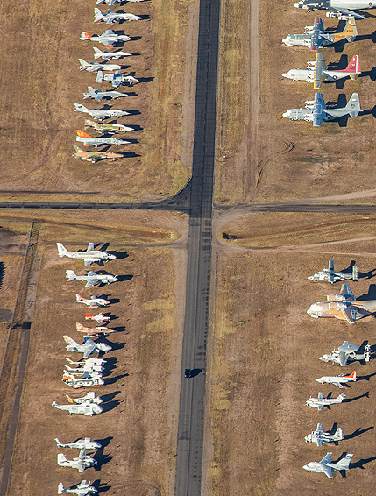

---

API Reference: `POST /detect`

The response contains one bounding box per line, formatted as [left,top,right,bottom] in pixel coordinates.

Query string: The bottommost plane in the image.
[60,480,97,496]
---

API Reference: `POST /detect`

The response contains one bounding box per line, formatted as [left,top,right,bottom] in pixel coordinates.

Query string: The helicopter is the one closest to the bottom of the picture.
[55,438,102,452]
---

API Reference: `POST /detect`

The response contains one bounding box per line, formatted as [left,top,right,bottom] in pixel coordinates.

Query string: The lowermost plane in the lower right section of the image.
[303,451,354,475]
